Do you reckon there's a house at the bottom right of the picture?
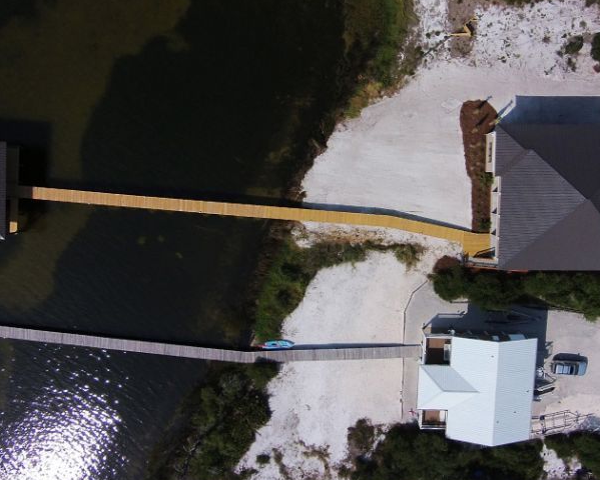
Yes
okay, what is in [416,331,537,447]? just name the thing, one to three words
house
